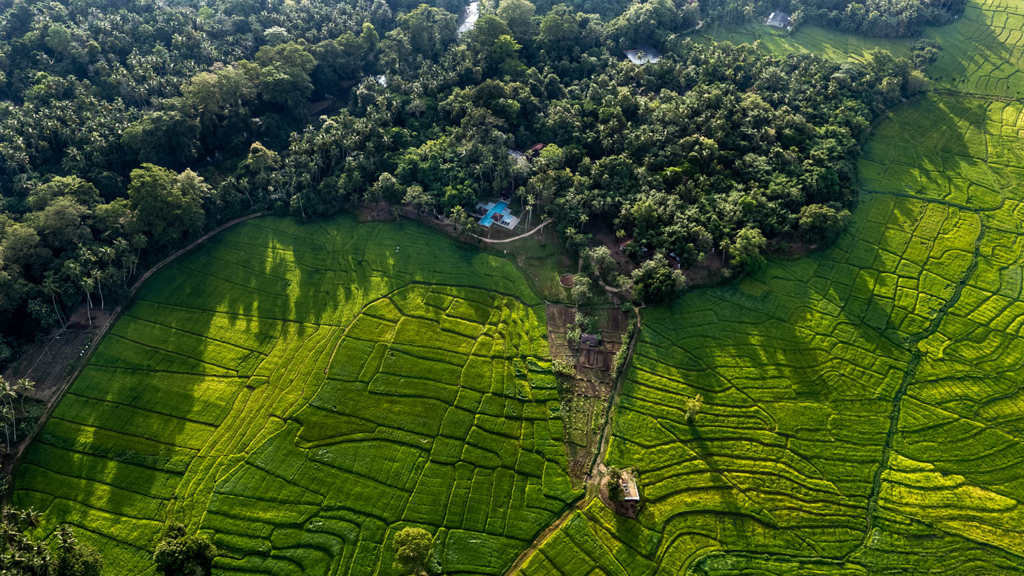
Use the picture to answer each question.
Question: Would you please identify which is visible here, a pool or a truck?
pool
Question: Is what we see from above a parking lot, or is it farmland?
farmland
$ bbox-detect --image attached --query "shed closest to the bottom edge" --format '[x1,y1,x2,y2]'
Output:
[620,468,640,505]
